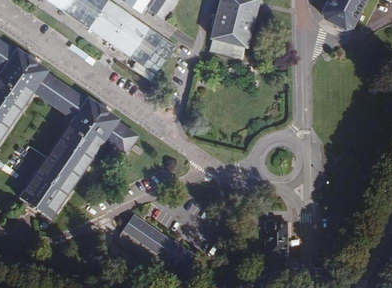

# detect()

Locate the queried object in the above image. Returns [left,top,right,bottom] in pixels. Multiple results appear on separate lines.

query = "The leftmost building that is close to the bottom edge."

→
[120,212,202,278]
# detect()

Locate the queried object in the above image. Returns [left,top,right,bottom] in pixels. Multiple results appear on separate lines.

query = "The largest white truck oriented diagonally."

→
[68,42,96,64]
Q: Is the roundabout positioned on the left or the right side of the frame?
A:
right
